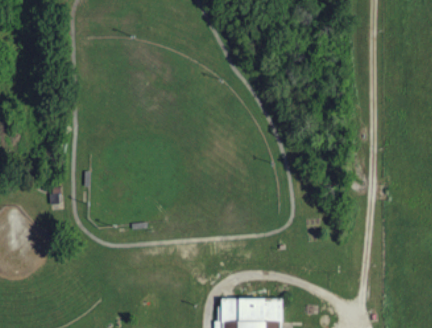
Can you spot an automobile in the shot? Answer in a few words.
No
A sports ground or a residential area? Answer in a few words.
sports ground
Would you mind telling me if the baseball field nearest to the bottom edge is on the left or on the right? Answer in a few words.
left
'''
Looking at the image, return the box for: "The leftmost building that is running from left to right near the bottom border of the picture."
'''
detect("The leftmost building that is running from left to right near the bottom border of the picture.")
[214,298,282,328]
